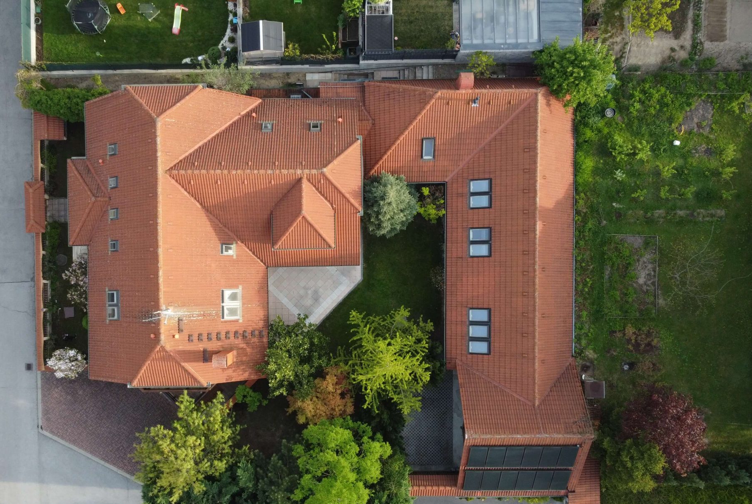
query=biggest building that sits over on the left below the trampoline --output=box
[66,83,365,401]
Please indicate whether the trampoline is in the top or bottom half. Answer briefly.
top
